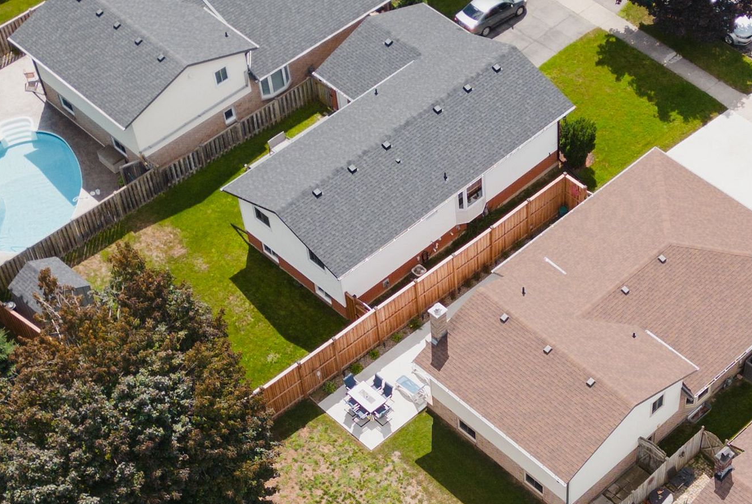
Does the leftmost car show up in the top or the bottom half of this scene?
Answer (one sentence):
The top half of the photo is where the leftmost car is.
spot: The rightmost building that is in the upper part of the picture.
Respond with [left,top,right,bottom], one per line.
[218,3,580,318]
